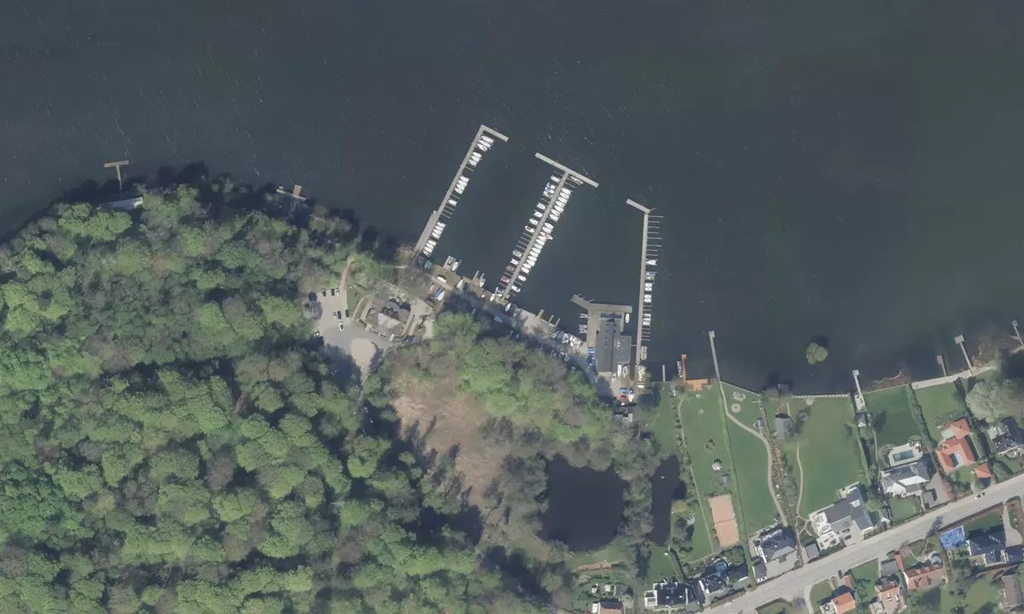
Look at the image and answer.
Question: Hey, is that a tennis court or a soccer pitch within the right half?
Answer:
tennis court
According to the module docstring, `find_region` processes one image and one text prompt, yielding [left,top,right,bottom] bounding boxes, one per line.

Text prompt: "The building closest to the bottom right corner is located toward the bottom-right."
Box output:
[1001,574,1023,606]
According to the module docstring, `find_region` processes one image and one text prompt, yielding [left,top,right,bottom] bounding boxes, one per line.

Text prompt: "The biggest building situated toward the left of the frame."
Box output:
[365,302,410,340]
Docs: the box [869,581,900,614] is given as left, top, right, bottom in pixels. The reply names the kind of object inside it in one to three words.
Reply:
house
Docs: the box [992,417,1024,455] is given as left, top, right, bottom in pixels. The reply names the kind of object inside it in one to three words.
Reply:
house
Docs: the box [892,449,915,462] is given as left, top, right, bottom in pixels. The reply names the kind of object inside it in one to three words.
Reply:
swimming pool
